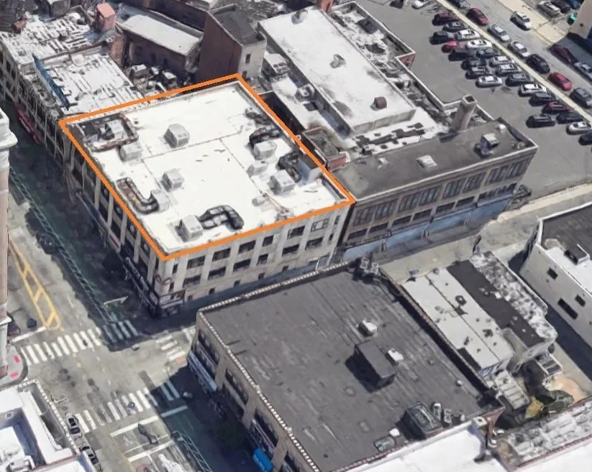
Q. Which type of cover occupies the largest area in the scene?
buildings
